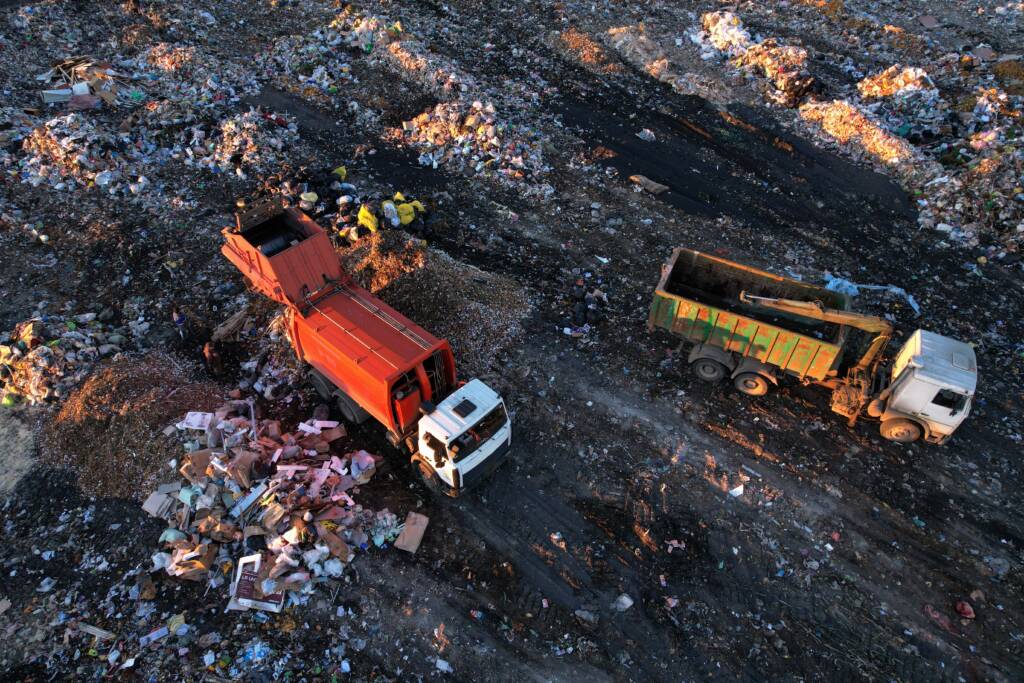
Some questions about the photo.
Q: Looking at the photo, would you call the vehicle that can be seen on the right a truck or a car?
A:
truck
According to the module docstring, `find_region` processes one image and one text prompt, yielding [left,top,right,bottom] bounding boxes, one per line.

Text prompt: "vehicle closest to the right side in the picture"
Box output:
[648,251,978,452]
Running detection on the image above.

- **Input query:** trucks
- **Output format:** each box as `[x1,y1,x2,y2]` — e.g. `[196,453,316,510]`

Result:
[218,198,515,498]
[648,251,978,452]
